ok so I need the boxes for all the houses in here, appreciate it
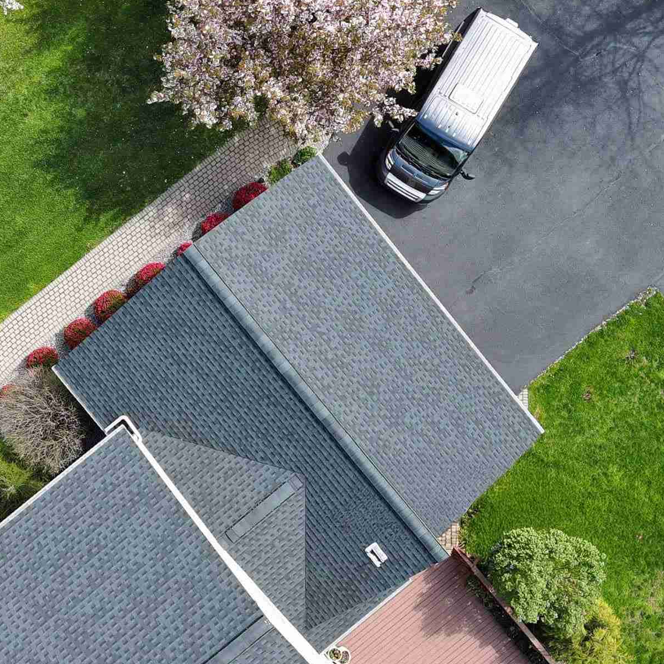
[0,151,548,664]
